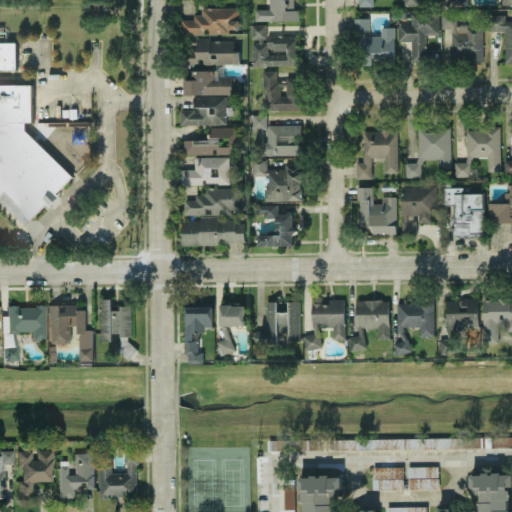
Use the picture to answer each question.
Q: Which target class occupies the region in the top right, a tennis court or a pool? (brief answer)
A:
pool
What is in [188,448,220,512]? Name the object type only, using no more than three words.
tennis court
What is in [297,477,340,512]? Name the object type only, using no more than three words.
building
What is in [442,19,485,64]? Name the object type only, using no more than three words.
house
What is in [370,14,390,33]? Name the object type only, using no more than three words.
swimming pool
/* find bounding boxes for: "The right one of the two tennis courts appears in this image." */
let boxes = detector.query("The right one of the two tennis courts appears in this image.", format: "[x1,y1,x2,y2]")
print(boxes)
[220,448,250,512]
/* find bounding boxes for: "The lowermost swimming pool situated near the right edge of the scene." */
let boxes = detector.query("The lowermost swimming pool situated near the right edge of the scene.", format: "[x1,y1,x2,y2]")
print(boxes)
[489,184,509,203]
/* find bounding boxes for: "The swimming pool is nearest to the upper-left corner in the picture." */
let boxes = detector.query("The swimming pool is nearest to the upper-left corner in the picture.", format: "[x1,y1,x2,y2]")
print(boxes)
[217,64,247,82]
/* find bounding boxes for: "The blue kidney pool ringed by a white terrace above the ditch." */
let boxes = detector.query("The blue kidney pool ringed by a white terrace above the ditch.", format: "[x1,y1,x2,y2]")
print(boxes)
[319,336,348,360]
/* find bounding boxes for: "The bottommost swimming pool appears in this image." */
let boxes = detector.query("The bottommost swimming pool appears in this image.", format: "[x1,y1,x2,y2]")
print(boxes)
[114,454,126,470]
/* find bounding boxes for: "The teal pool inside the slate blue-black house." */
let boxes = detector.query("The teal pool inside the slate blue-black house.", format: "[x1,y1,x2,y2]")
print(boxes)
[254,218,275,234]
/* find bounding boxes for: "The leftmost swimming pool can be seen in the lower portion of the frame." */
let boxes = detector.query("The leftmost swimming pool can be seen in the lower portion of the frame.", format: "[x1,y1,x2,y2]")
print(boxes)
[18,335,48,362]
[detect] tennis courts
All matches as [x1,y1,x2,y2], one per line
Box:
[188,448,220,512]
[220,448,250,512]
